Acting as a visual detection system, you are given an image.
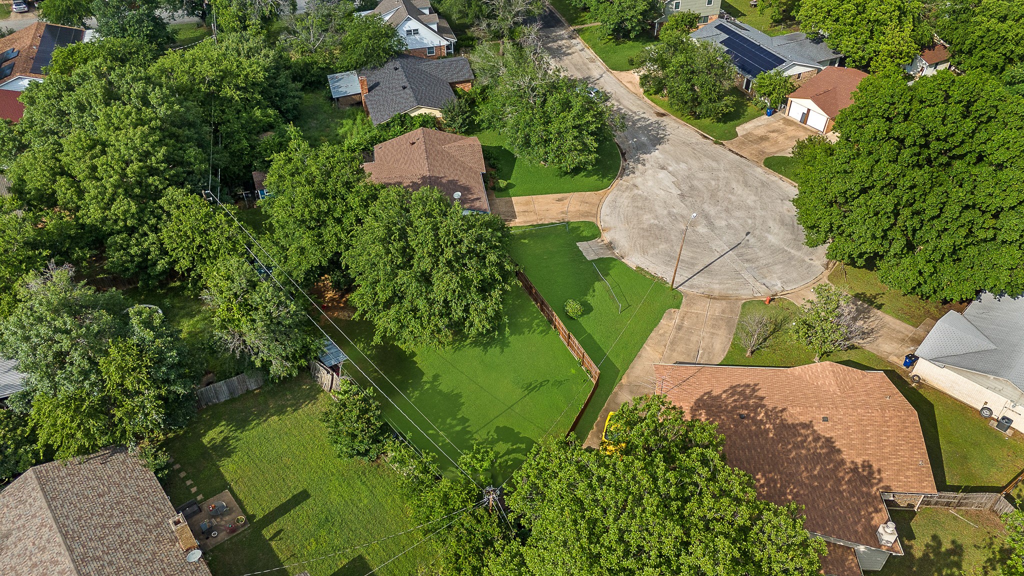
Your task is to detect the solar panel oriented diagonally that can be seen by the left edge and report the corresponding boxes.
[28,28,78,74]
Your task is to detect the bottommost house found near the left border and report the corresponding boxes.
[0,440,208,576]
